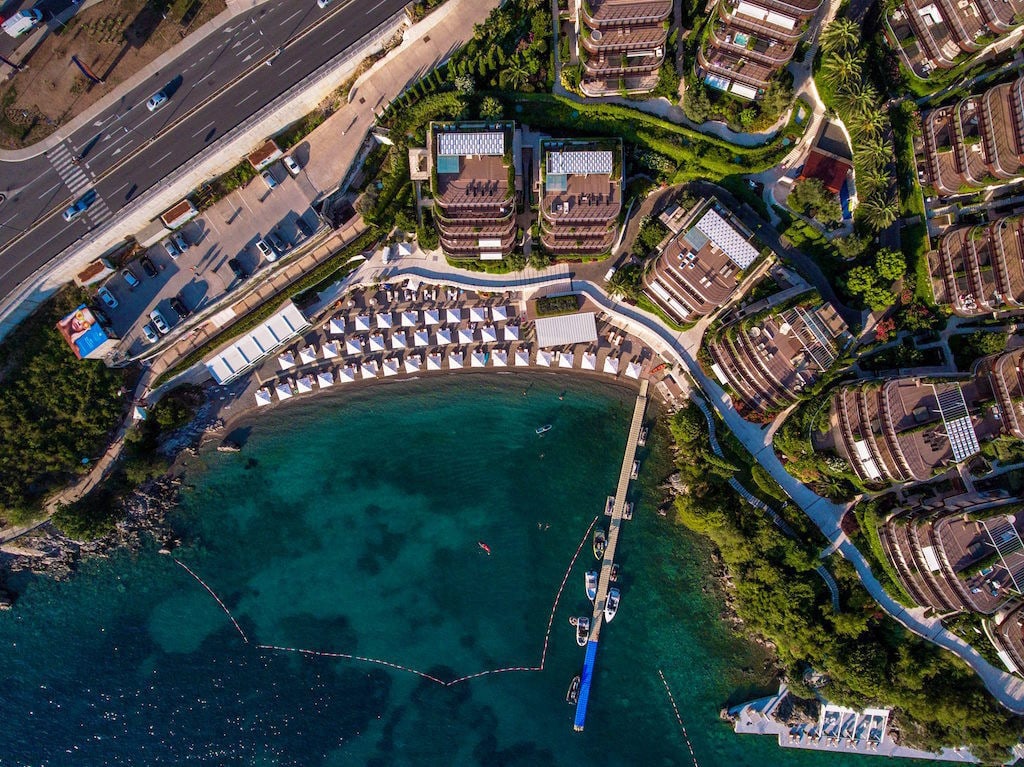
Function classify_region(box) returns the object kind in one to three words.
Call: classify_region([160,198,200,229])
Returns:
building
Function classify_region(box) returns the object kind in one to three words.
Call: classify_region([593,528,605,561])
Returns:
boat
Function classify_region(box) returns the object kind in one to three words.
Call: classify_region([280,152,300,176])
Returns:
car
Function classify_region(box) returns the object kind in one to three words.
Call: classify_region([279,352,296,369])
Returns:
umbrella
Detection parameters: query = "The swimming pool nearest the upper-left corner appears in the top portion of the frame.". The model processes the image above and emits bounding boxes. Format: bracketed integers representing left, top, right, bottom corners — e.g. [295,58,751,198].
[439,157,458,172]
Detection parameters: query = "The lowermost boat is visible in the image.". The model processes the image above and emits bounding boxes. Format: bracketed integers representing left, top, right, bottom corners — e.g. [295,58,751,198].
[566,676,581,706]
